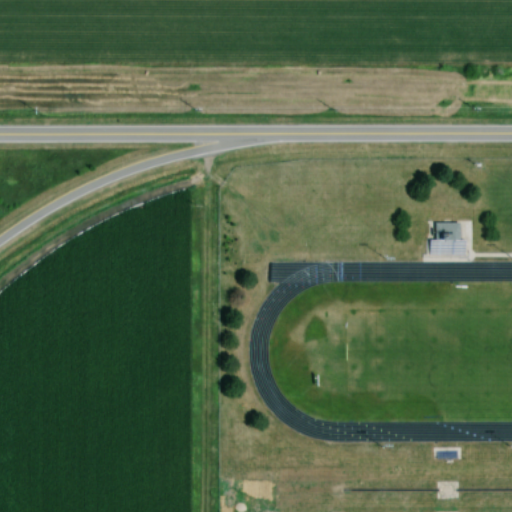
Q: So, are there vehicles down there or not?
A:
No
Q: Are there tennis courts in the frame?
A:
No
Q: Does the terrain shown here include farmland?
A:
Yes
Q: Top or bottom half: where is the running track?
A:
bottom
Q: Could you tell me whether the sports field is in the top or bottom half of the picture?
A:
bottom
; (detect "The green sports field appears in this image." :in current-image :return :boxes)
[270,281,512,422]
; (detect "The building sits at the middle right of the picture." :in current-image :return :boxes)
[435,222,460,240]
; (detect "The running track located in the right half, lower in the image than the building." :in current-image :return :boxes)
[250,262,512,441]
